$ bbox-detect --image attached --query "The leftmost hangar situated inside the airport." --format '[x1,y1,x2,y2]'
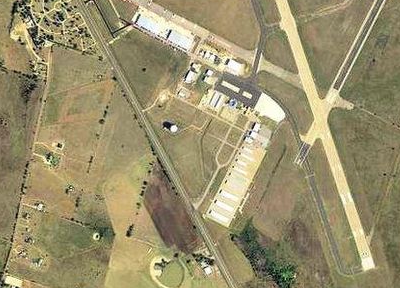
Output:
[136,16,168,38]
